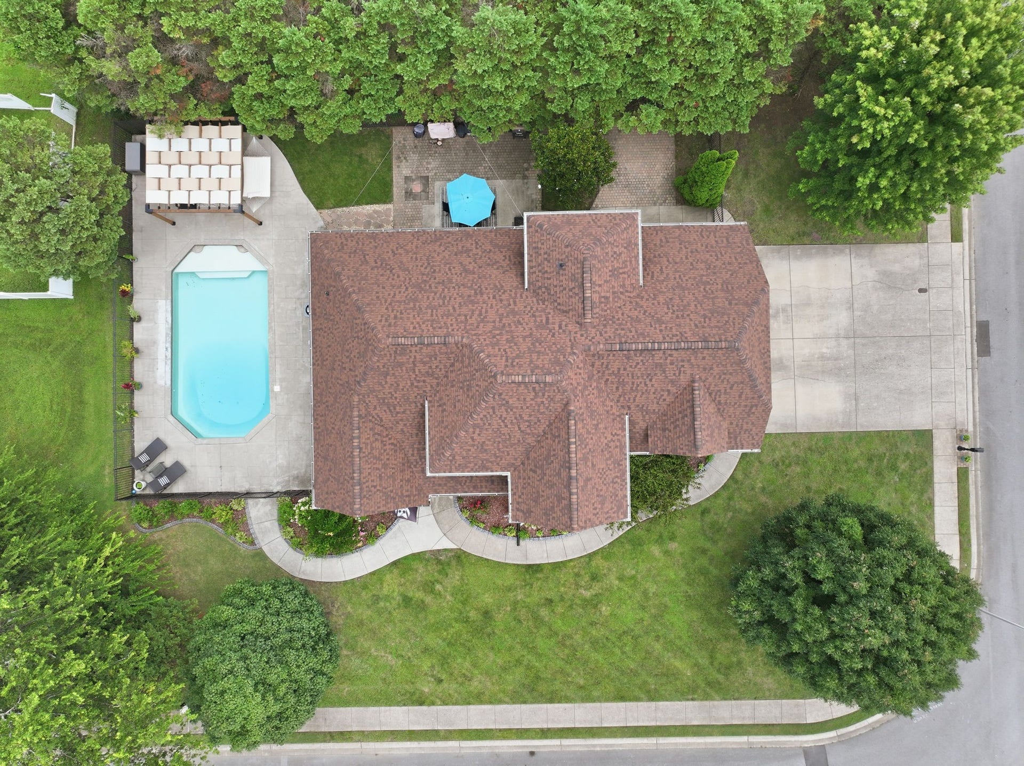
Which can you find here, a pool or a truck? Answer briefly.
pool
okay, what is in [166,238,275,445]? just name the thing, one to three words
swimming pool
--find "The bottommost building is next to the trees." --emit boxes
[307,208,774,537]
